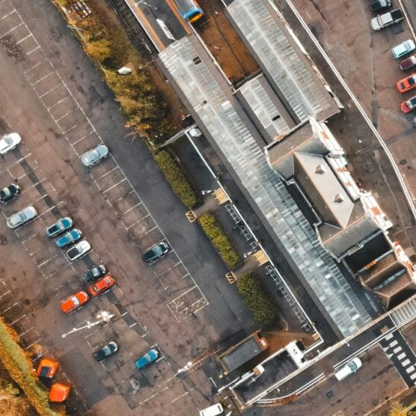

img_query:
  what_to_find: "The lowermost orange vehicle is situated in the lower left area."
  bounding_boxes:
[49,378,73,404]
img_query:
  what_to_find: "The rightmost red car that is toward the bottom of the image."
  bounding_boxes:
[87,274,119,297]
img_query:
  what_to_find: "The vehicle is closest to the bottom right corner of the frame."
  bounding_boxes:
[332,357,365,384]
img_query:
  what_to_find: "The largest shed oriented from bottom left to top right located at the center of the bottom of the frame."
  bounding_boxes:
[218,326,275,373]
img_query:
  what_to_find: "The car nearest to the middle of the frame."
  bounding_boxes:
[140,239,172,264]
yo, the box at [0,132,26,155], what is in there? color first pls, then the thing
white car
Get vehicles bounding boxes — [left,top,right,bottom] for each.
[195,398,231,416]
[38,355,61,380]
[140,239,172,264]
[132,345,164,371]
[44,215,77,238]
[87,274,119,297]
[0,183,24,204]
[396,73,416,94]
[0,132,26,155]
[332,357,365,384]
[80,143,113,169]
[91,340,122,362]
[49,378,73,404]
[368,0,394,14]
[58,289,92,316]
[369,9,405,32]
[4,204,41,230]
[81,263,110,284]
[63,239,94,263]
[54,227,86,249]
[389,40,416,60]
[399,95,416,114]
[398,53,416,72]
